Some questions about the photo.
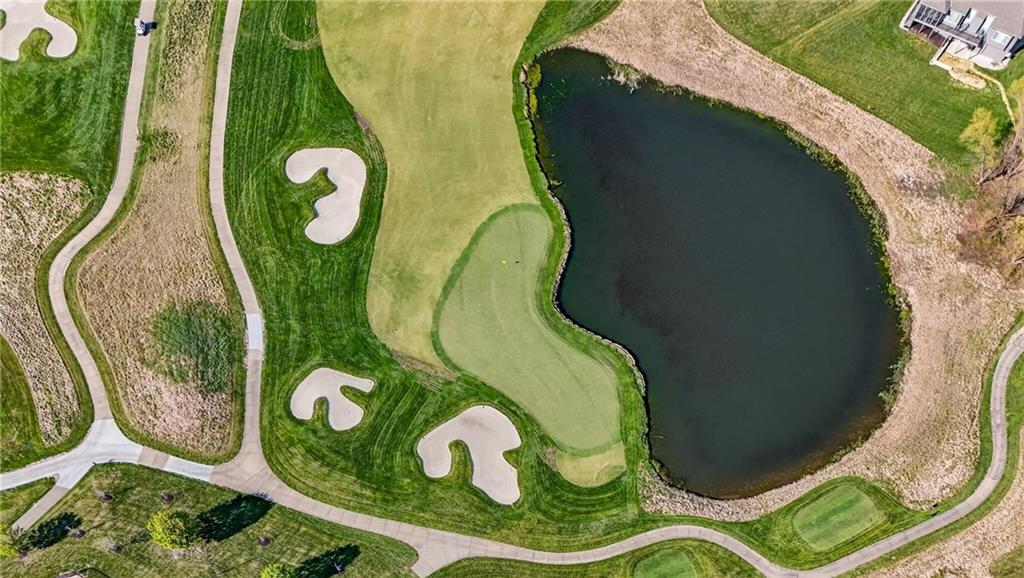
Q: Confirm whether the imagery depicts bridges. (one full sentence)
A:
No, no bridge is visible in the scene.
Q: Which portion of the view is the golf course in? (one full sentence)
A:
The golf course is located in the center region of the scene.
